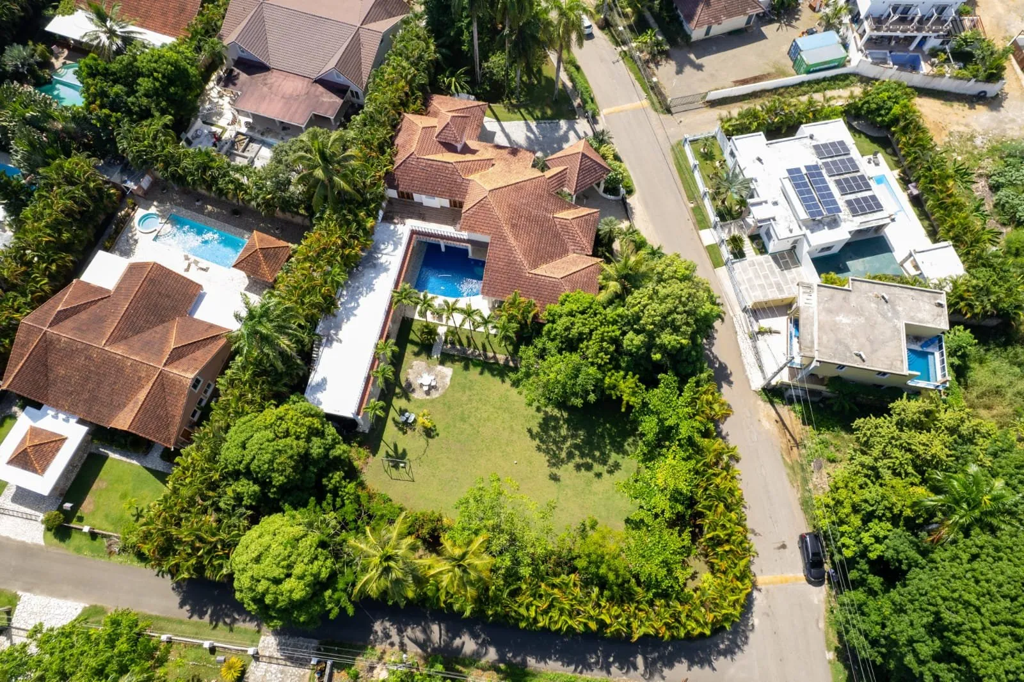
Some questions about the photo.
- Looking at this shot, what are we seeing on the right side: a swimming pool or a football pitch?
swimming pool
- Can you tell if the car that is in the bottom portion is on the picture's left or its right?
right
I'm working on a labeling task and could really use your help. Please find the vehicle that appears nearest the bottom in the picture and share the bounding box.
[796,534,828,589]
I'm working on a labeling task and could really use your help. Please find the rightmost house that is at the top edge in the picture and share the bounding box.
[849,0,971,52]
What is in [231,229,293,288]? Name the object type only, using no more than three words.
gazebo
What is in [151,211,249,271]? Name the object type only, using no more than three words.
swimming pool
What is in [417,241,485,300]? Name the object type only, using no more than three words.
swimming pool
